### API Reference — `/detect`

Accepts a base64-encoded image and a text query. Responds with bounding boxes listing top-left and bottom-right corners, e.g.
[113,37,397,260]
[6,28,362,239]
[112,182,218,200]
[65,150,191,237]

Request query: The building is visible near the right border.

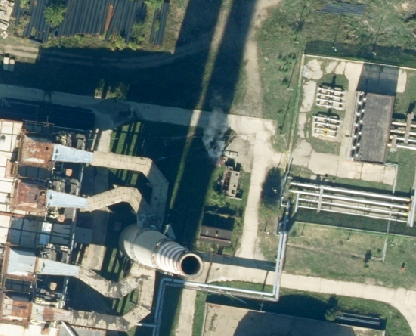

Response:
[347,92,396,164]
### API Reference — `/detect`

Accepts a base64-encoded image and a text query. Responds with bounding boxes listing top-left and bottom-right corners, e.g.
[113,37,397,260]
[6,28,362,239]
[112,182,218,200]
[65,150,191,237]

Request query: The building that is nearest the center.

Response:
[221,166,239,198]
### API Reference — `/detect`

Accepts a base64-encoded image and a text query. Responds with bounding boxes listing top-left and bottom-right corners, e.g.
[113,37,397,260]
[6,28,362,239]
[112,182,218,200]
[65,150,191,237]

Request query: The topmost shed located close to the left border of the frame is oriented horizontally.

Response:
[0,100,95,130]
